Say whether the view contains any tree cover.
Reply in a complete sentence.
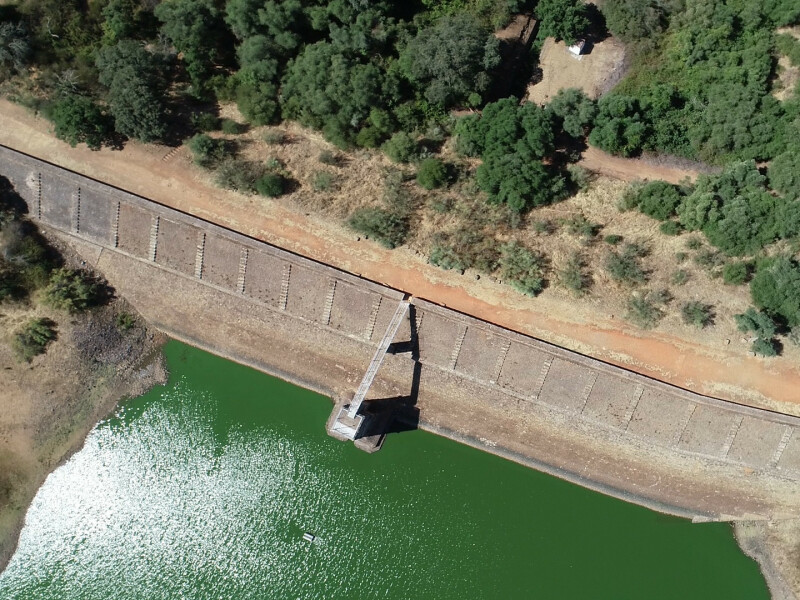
Yes, tree cover can be seen from above here.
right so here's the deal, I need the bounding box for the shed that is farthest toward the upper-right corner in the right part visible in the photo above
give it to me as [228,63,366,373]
[566,34,588,62]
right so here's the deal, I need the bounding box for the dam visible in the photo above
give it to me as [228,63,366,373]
[0,147,800,529]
